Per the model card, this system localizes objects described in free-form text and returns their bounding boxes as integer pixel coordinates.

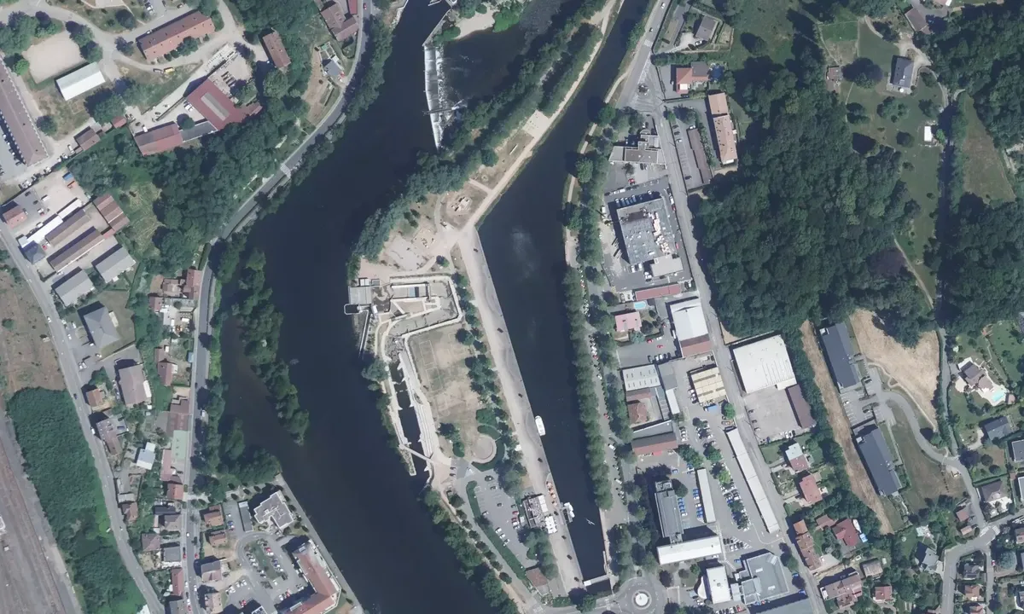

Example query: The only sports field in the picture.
[22,31,87,84]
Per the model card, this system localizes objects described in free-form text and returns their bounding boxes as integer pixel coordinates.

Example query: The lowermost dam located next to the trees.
[423,45,459,148]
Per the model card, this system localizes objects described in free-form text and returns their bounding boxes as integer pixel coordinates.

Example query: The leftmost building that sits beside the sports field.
[0,59,47,166]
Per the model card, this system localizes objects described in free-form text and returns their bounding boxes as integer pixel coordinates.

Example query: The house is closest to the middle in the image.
[615,311,642,331]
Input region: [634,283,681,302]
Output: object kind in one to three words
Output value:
shed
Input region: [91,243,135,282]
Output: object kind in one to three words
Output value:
building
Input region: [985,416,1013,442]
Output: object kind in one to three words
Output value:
house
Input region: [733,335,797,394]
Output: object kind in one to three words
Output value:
building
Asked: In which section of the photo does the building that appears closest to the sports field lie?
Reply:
top left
